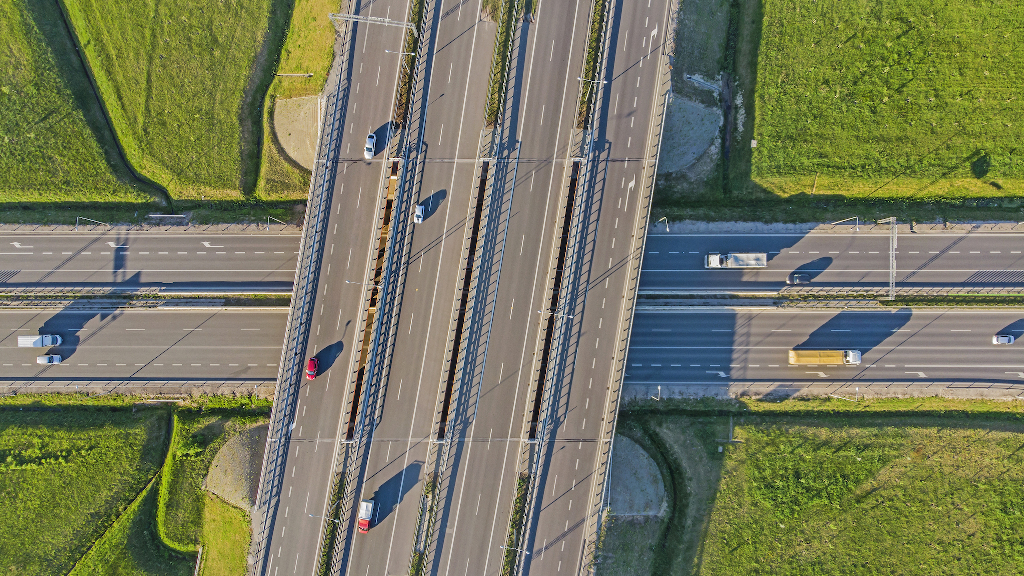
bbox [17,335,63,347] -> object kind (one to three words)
vehicle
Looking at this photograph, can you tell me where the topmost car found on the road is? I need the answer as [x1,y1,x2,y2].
[365,134,377,159]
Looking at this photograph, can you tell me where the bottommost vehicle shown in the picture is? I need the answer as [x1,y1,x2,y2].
[357,498,374,534]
